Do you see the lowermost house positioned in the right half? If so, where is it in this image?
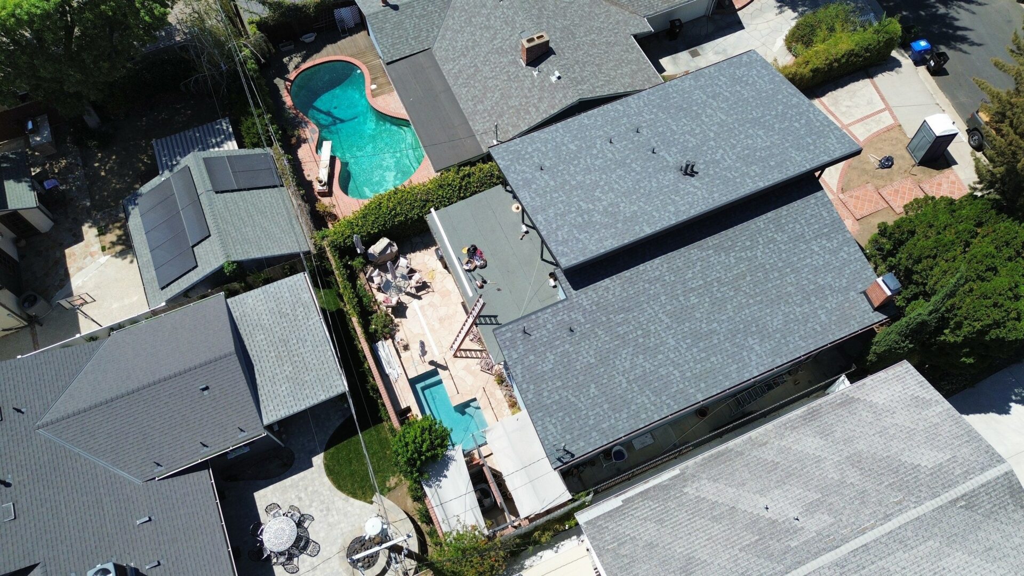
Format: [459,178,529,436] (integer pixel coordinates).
[574,361,1024,576]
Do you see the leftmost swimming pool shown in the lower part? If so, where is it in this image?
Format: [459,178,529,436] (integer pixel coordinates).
[409,369,487,455]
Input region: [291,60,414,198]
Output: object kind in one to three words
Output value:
swimming pool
